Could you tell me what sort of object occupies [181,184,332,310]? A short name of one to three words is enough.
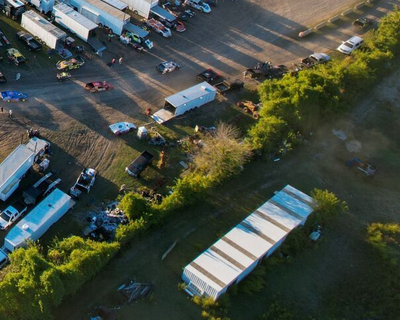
shed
